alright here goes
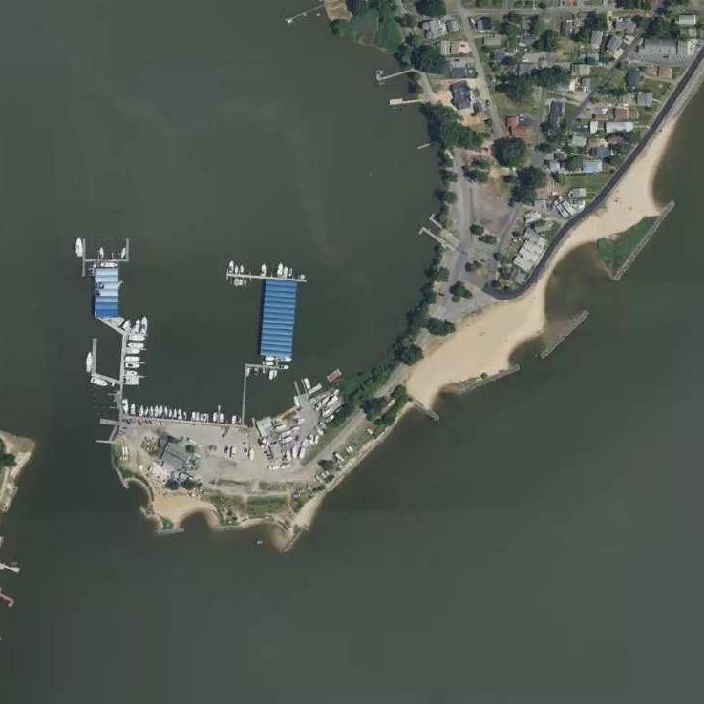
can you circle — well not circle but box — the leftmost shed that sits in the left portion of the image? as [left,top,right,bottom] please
[94,267,119,317]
